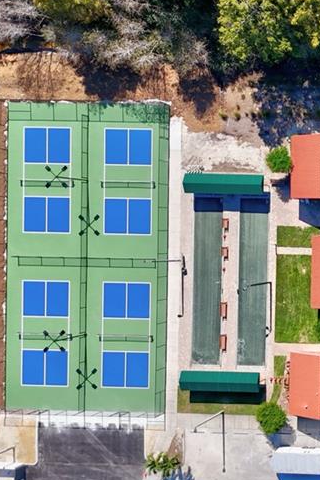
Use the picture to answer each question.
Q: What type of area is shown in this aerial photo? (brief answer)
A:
sports ground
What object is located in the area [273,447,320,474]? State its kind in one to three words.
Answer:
trailer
